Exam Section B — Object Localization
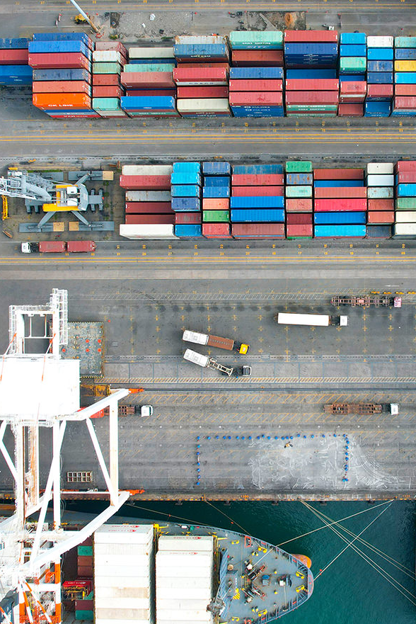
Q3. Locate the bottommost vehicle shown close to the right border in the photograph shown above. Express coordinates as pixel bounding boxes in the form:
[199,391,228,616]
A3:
[324,404,403,417]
